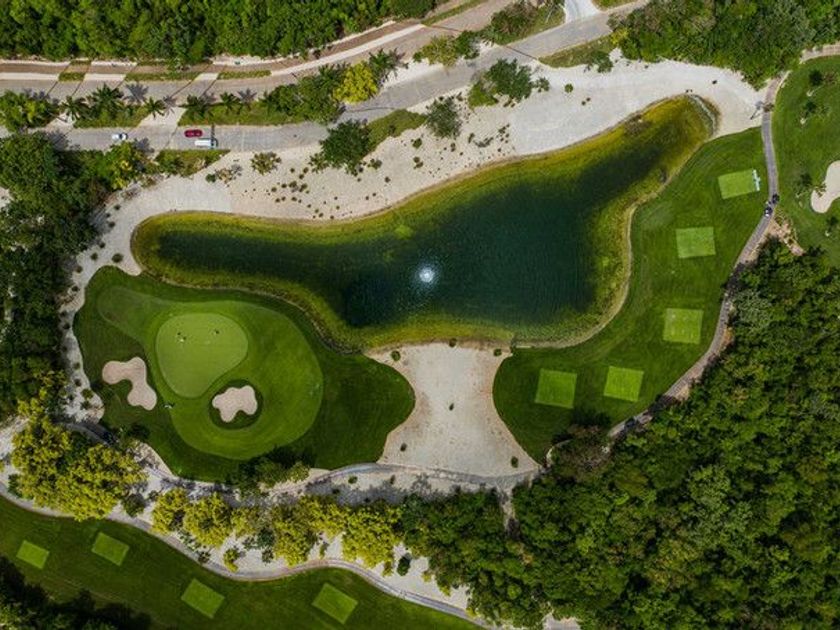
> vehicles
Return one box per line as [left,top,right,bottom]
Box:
[192,137,217,148]
[772,194,783,204]
[184,128,202,137]
[764,206,775,216]
[111,131,127,140]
